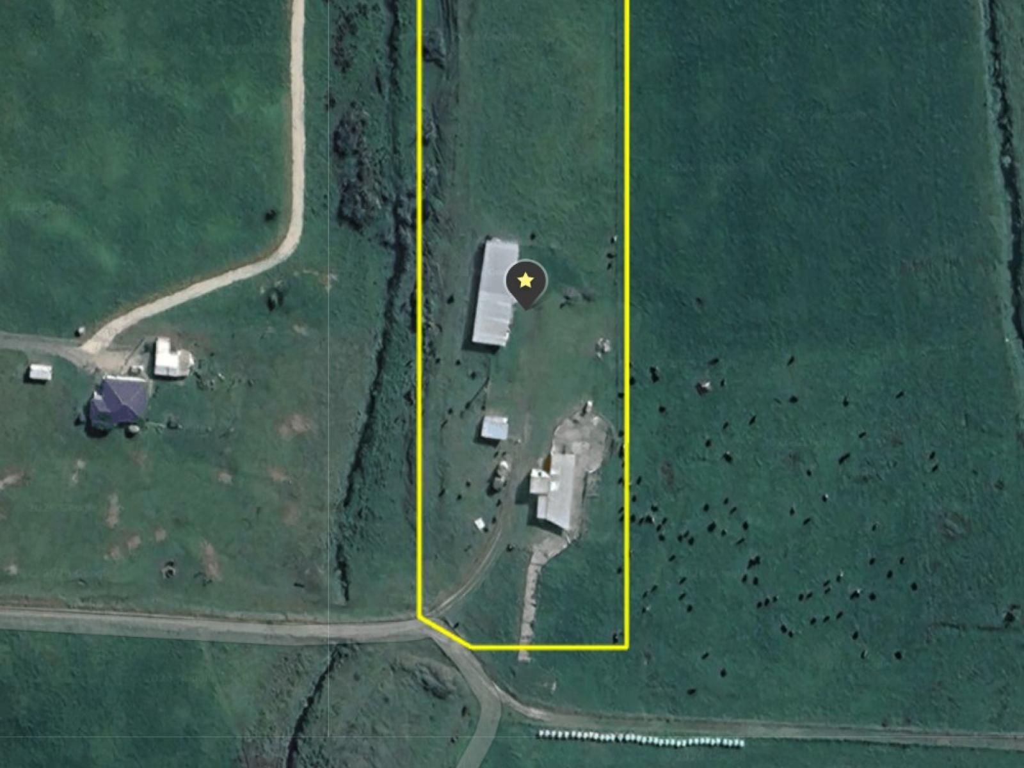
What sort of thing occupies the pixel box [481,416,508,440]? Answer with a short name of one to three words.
shed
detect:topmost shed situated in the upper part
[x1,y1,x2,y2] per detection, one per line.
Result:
[472,240,519,346]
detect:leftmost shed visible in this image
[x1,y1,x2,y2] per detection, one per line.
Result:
[28,364,51,380]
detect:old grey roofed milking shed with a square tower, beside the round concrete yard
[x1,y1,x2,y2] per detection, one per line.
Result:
[530,454,576,530]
